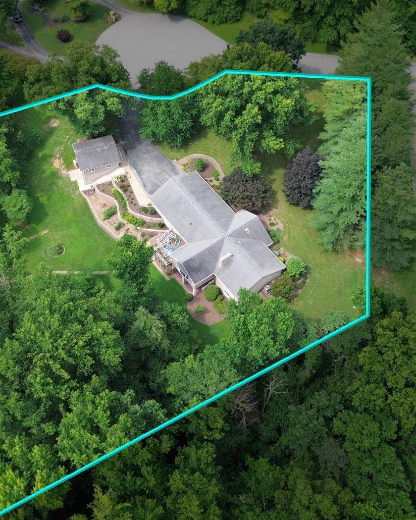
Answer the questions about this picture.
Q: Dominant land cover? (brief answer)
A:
trees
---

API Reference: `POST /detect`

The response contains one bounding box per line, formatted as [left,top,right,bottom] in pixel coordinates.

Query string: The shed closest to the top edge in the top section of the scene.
[72,134,121,185]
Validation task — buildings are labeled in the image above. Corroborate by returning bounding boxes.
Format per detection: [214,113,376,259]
[148,171,285,306]
[72,134,121,185]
